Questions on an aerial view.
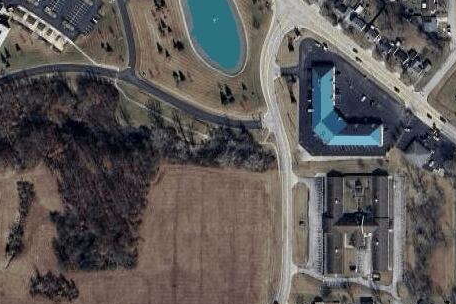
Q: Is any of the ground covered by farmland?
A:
Yes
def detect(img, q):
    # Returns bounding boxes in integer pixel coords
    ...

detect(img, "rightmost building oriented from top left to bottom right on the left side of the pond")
[7,6,73,52]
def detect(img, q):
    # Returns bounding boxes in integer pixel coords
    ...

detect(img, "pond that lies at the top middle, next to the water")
[187,0,239,69]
